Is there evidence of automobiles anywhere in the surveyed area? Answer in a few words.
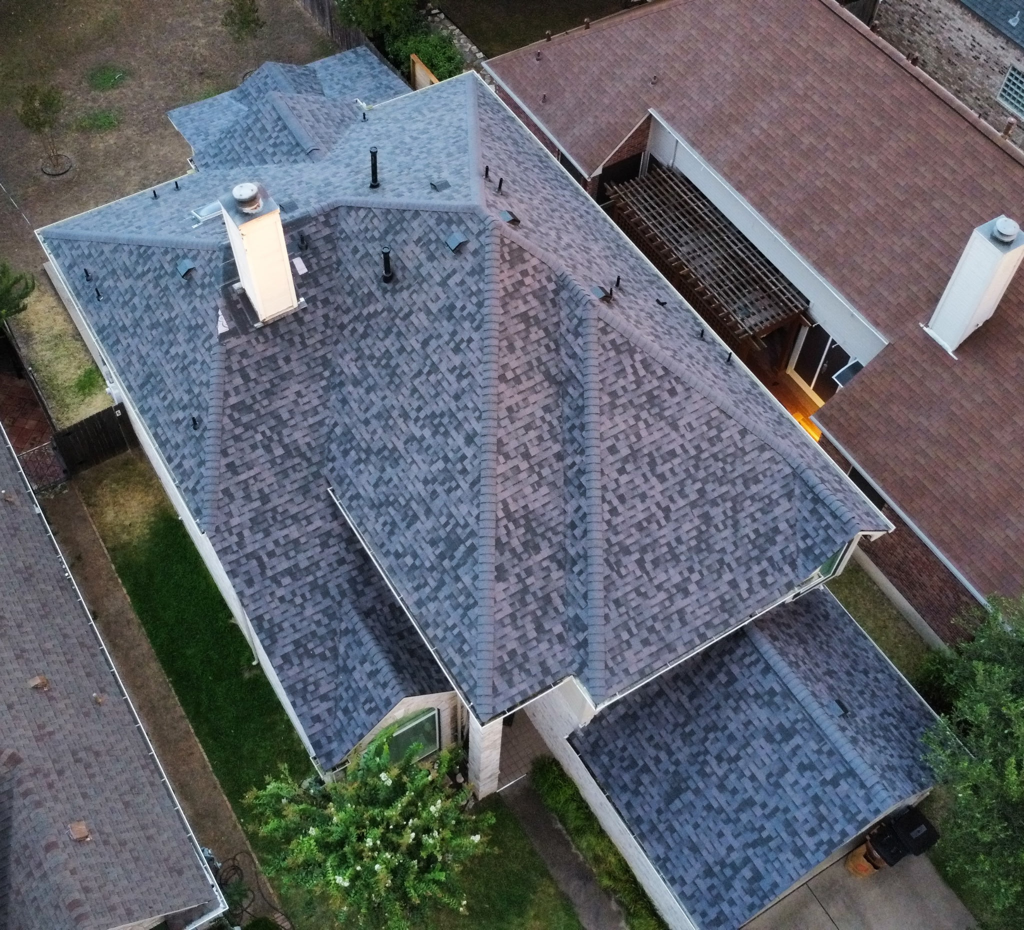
No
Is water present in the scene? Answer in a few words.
No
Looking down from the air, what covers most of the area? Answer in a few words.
buildings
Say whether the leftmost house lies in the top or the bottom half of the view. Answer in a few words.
bottom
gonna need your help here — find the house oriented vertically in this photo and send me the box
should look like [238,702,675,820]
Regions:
[0,421,234,930]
